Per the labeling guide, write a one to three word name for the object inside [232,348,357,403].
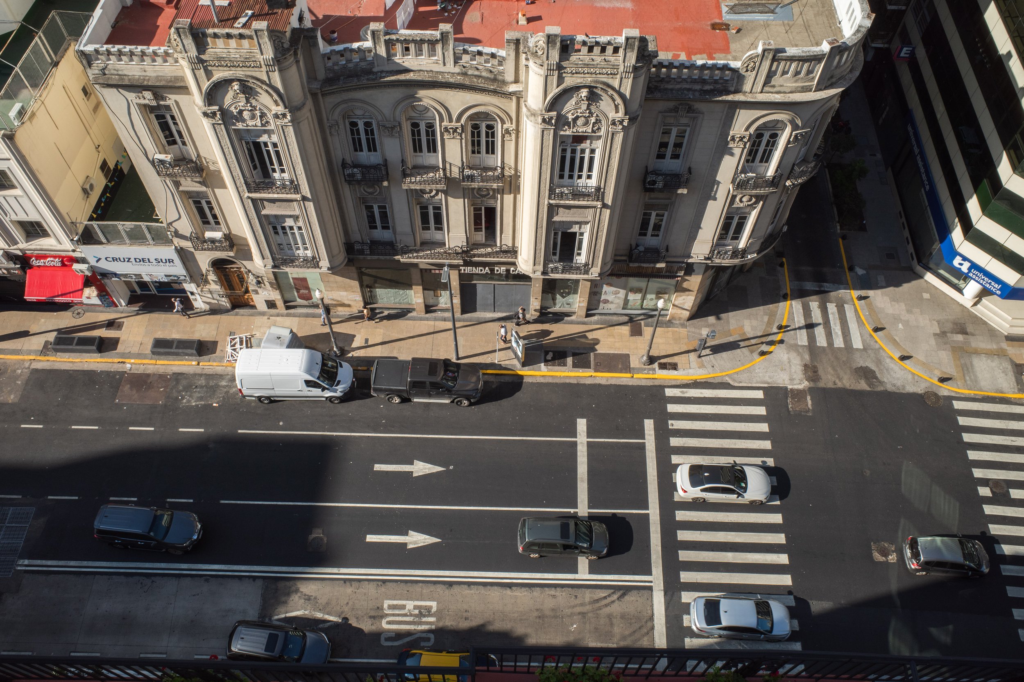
van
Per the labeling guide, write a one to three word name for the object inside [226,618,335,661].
car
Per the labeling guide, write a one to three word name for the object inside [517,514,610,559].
car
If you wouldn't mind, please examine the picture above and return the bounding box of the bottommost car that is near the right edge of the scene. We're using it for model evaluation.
[898,535,991,581]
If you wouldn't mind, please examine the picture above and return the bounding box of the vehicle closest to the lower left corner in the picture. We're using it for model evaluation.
[90,506,206,556]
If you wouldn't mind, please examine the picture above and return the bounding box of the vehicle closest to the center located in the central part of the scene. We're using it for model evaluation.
[371,354,485,404]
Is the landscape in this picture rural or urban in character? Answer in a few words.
urban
